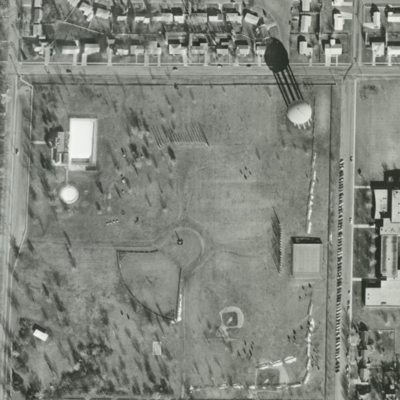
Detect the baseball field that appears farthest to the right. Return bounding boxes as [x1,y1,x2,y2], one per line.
[256,366,289,387]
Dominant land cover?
grass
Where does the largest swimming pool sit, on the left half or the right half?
left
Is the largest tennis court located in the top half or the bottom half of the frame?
bottom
